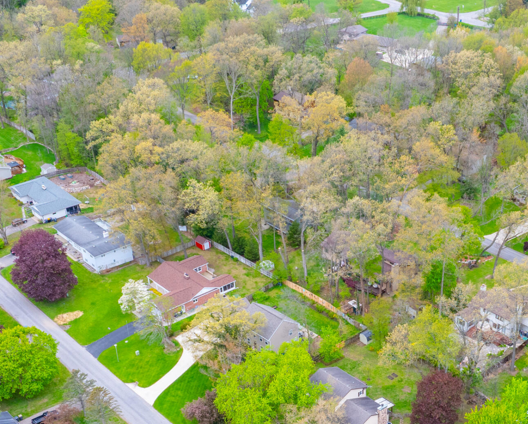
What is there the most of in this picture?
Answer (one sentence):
The bulk of the photo consists of trees.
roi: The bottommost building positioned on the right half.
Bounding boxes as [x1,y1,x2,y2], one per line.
[306,364,398,424]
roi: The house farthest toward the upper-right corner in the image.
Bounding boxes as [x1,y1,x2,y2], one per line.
[339,26,400,49]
